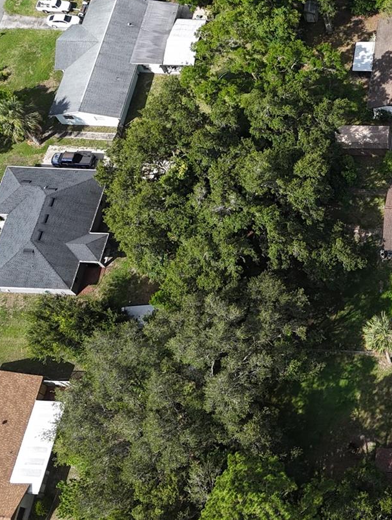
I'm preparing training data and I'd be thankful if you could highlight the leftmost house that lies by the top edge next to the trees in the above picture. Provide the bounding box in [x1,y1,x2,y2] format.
[46,0,204,124]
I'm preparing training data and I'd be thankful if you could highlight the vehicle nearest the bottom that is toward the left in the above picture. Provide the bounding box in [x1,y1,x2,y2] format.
[51,150,95,168]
